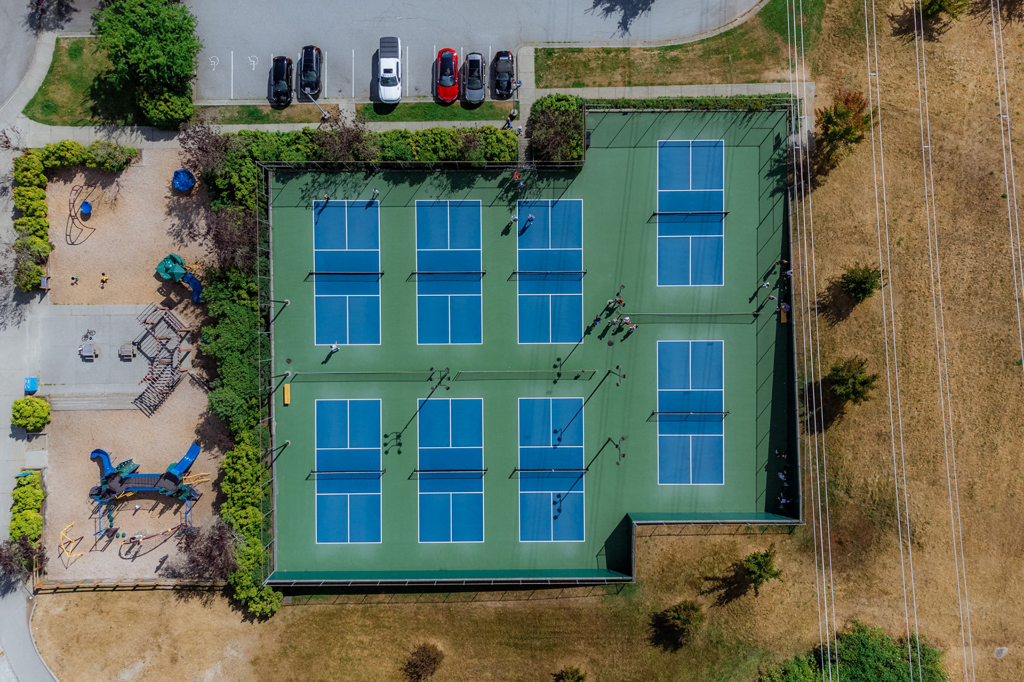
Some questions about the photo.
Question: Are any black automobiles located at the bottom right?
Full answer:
No, I can find no black automobile at the bottom right.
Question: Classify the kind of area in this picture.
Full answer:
What you see here is a sports ground.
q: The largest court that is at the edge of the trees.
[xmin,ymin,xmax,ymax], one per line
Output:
[271,110,788,572]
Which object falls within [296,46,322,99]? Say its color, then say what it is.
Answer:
black car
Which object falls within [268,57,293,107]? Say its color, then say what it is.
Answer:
black car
